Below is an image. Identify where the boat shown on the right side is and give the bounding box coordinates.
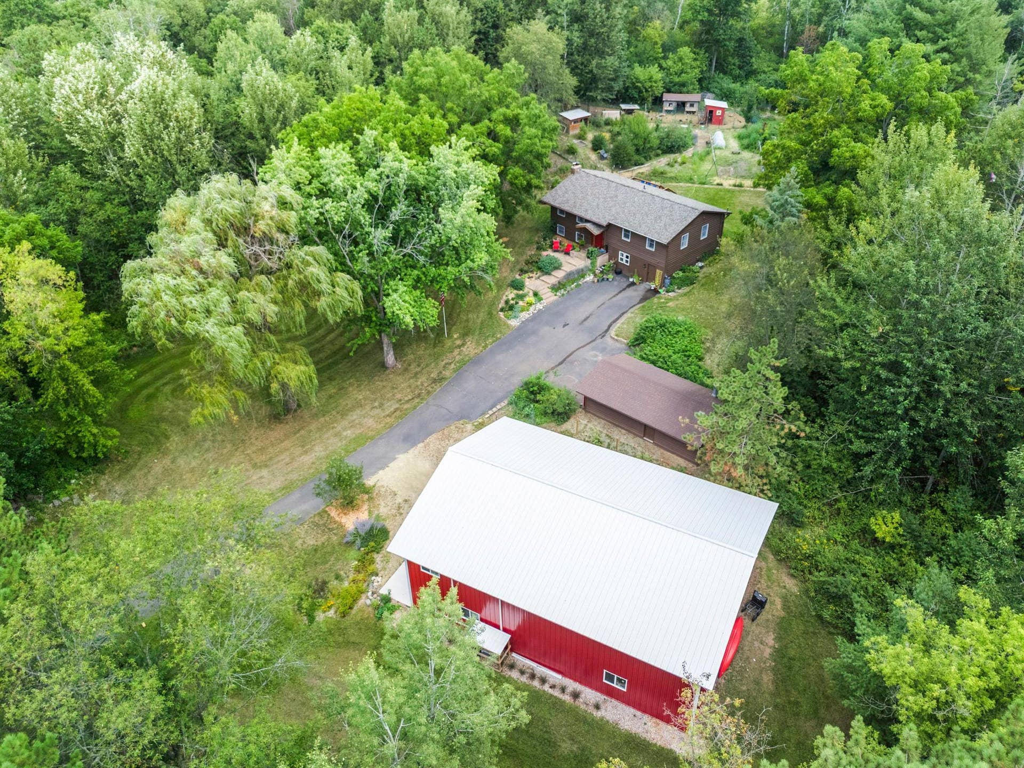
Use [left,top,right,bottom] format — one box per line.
[722,613,750,681]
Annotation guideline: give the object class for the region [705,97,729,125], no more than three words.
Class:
shed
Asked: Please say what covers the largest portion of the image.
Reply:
trees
